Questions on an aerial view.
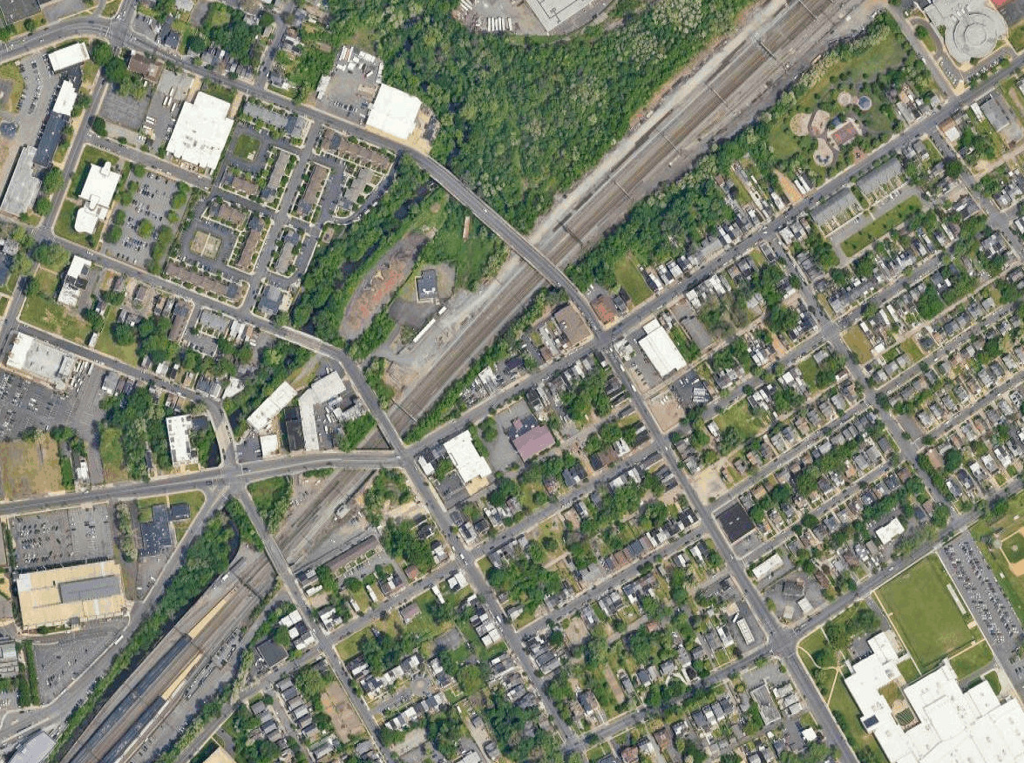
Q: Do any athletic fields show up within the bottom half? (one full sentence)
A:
Yes, you'll find an athletic field within the bottom half.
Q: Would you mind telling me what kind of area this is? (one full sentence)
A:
The picture captures a residential area.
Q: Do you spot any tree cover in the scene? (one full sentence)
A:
Yes, there is tree cover in the image.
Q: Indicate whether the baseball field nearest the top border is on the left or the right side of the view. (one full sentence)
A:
The baseball field nearest the top border sits on the right side.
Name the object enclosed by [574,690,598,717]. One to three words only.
house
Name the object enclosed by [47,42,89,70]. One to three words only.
building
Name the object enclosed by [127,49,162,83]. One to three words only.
building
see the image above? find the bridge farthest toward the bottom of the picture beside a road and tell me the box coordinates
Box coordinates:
[250,515,314,614]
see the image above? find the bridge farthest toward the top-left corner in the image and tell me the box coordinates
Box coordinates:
[276,324,321,353]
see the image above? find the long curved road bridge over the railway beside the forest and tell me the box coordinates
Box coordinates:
[420,157,578,297]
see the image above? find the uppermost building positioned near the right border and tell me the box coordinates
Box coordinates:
[925,0,1009,66]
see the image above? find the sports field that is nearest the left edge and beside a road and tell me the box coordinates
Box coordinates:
[875,555,976,669]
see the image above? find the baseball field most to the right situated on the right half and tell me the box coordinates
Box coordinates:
[972,505,1024,586]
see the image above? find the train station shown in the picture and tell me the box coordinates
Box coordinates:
[66,579,257,763]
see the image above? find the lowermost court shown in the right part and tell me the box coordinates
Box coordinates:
[828,118,862,149]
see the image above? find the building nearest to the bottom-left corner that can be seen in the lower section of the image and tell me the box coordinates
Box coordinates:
[9,732,57,763]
